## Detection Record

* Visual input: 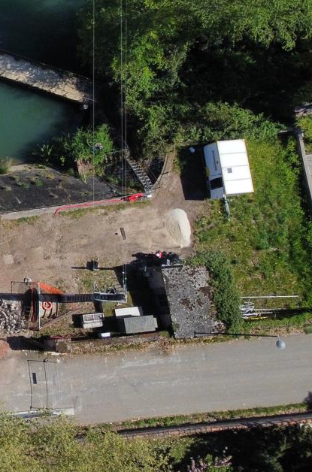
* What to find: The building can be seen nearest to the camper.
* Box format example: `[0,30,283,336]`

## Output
[141,263,224,339]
